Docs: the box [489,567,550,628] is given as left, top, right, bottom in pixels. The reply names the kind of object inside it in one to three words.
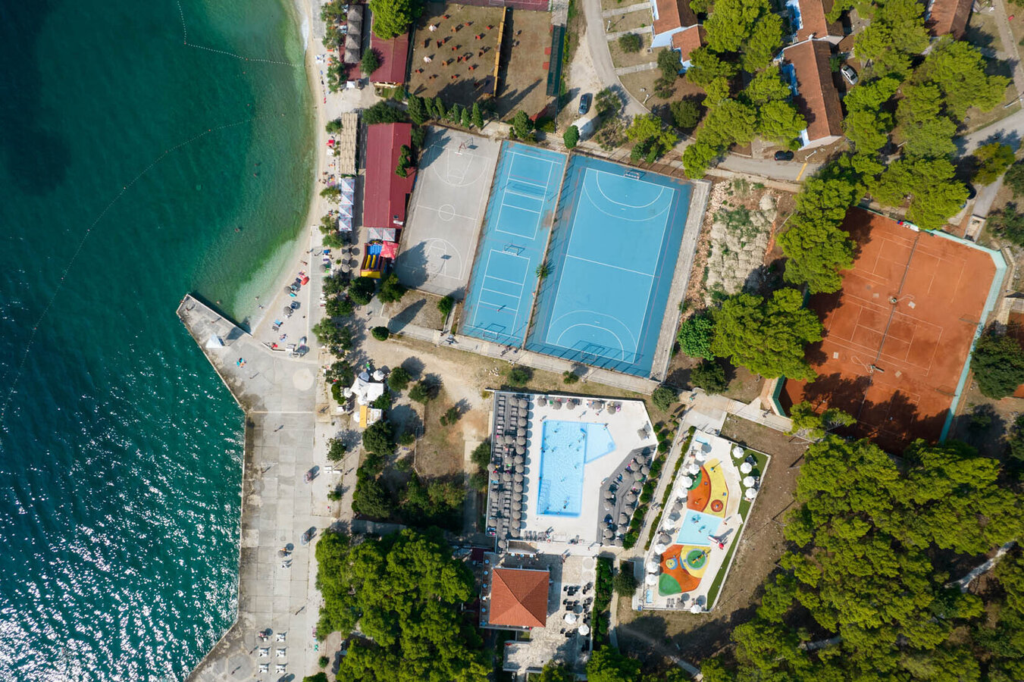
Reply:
building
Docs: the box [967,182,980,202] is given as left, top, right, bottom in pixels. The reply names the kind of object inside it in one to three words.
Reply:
vehicle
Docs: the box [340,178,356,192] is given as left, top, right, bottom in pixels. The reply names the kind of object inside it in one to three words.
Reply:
umbrella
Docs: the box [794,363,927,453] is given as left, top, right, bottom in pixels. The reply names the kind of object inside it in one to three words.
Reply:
tennis court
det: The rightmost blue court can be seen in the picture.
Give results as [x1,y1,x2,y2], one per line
[525,154,694,378]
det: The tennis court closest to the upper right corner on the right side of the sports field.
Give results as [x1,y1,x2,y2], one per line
[848,218,976,311]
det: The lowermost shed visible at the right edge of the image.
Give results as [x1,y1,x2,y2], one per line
[963,214,986,242]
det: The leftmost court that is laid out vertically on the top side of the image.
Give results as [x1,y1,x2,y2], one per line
[394,125,501,298]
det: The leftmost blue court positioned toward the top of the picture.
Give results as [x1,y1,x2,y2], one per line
[457,140,568,348]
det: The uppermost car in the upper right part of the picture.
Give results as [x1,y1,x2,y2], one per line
[842,64,857,85]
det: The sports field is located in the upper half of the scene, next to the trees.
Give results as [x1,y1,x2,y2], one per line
[539,161,683,369]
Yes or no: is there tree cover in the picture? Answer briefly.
Yes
